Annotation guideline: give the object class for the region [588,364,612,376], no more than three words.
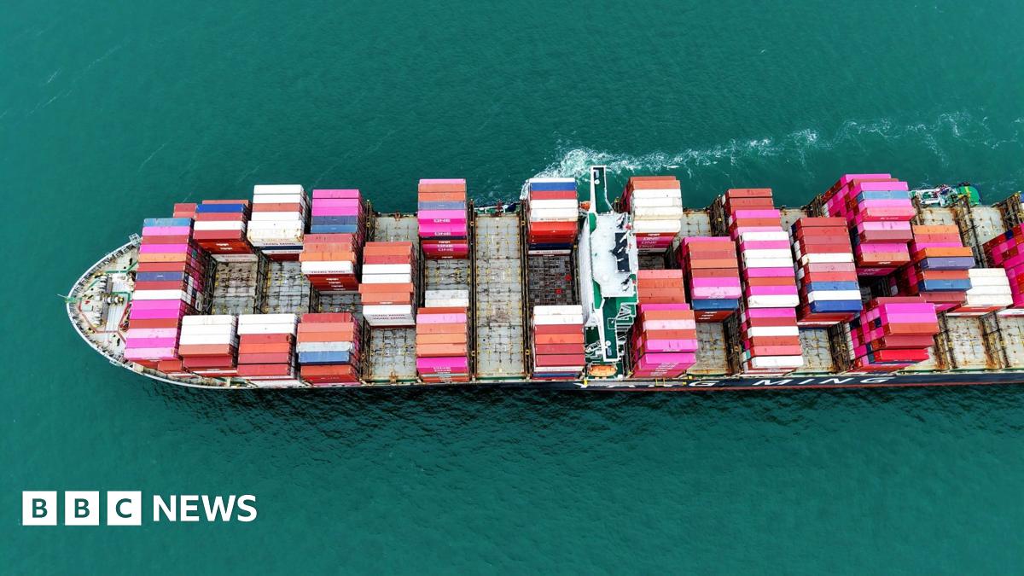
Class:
boat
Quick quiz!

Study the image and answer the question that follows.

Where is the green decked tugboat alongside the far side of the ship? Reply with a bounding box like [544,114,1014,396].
[908,180,984,205]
